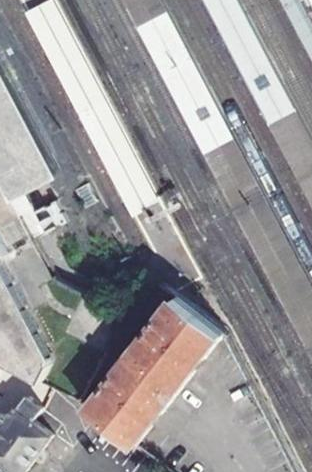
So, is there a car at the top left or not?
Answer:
No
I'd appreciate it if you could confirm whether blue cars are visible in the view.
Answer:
No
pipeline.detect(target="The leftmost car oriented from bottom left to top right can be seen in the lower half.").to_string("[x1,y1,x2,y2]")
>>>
[166,444,186,465]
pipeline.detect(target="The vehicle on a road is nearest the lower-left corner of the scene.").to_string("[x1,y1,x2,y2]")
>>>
[78,432,96,454]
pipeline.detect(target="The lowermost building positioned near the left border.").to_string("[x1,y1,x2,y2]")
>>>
[0,434,55,472]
